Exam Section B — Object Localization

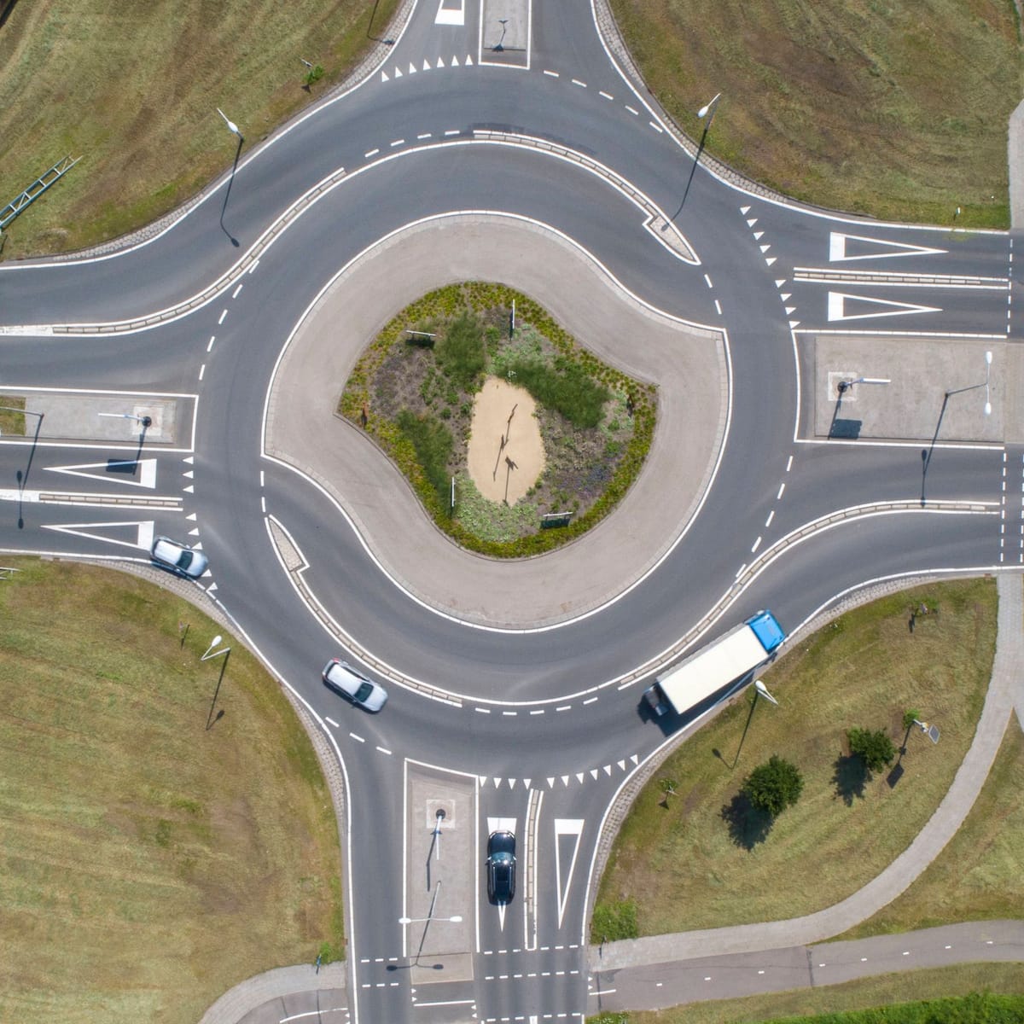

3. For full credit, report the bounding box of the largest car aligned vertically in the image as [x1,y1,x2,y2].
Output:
[485,831,519,904]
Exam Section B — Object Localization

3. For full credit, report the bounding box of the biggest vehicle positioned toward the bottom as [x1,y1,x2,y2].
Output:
[655,609,785,714]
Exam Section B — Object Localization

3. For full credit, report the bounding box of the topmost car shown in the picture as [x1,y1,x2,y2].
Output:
[147,534,207,575]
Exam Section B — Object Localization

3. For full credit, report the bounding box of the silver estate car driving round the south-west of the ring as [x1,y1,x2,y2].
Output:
[322,657,387,709]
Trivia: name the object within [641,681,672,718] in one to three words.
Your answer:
work vehicle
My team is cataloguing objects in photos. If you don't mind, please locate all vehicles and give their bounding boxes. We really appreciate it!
[655,609,785,714]
[641,681,672,718]
[322,657,387,709]
[147,534,207,575]
[485,831,519,904]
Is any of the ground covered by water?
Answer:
No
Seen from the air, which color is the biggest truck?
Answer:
white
